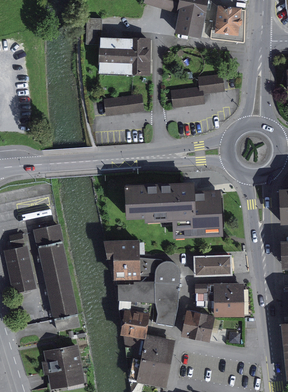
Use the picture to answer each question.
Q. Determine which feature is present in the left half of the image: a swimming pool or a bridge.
bridge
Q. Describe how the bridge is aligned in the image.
from side to side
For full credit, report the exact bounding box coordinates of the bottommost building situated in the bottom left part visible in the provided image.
[42,346,84,392]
